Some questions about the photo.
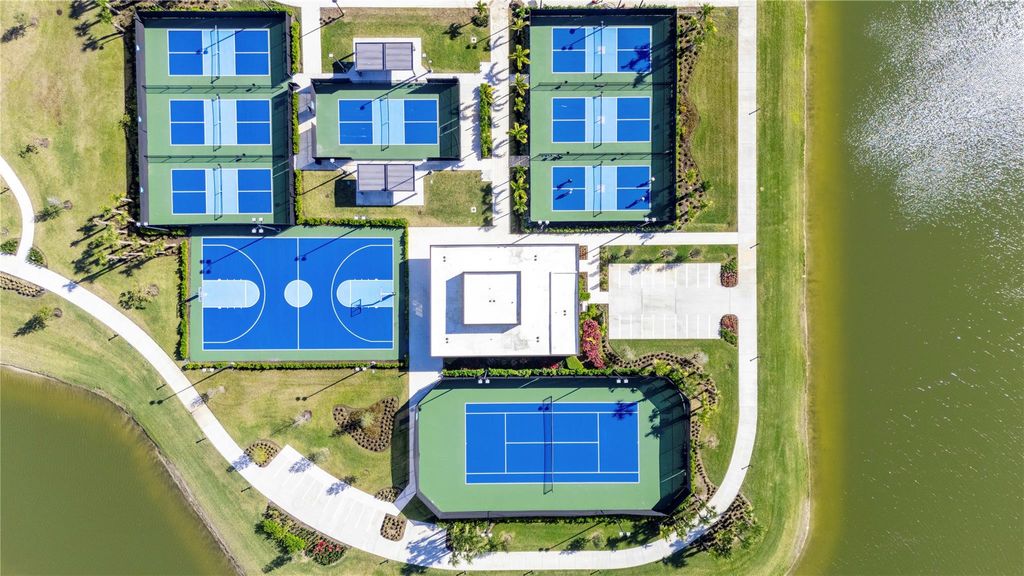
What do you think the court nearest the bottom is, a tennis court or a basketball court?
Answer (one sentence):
Looking closely, the court nearest the bottom is a tennis court.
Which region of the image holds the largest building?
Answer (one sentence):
The largest building sits in the center section of the image.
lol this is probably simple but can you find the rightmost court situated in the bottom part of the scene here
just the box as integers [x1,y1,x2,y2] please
[418,378,684,511]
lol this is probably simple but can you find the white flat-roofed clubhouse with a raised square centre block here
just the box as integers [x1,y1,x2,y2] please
[430,244,580,357]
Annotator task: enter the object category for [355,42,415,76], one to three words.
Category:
building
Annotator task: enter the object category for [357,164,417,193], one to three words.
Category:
building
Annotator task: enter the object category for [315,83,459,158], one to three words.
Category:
sports court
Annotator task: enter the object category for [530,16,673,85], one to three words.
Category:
sports court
